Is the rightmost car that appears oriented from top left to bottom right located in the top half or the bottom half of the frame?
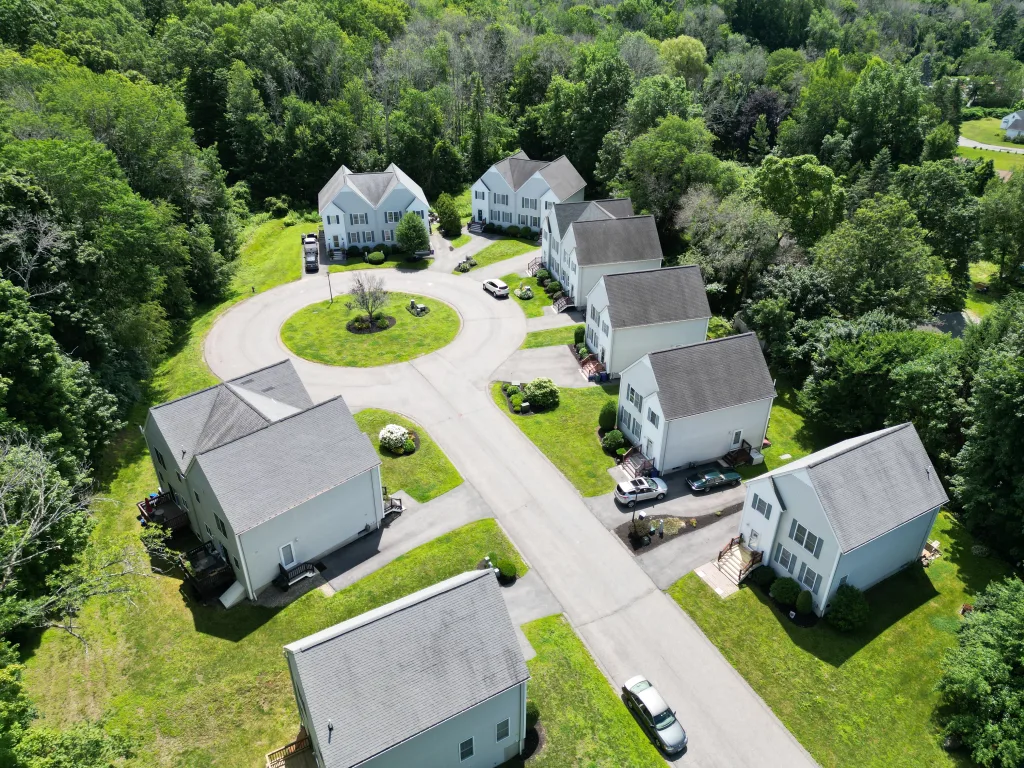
bottom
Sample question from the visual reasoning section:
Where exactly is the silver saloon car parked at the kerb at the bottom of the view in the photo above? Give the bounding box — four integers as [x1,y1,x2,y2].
[621,673,692,753]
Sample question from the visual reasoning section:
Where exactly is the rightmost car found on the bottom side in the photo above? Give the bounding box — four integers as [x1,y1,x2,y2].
[686,463,746,490]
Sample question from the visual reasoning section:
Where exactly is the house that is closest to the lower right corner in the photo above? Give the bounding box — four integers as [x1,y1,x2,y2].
[707,424,949,614]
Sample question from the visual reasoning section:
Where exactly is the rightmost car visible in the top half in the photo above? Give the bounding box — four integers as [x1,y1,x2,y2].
[481,277,510,295]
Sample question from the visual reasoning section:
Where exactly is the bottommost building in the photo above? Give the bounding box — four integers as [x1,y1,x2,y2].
[269,573,530,768]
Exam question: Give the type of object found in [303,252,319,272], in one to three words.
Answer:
car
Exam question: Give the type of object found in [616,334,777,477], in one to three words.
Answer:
house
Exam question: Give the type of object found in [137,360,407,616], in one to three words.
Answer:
house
